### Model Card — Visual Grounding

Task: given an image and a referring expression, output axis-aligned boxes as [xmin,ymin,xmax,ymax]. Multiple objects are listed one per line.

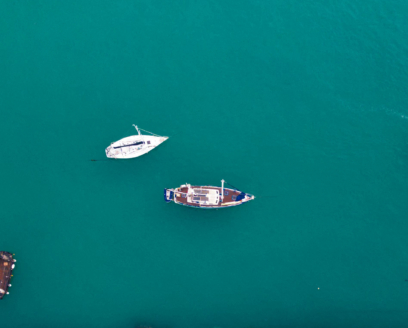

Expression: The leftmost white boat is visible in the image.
[104,124,169,160]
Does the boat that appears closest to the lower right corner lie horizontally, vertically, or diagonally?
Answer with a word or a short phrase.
horizontally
